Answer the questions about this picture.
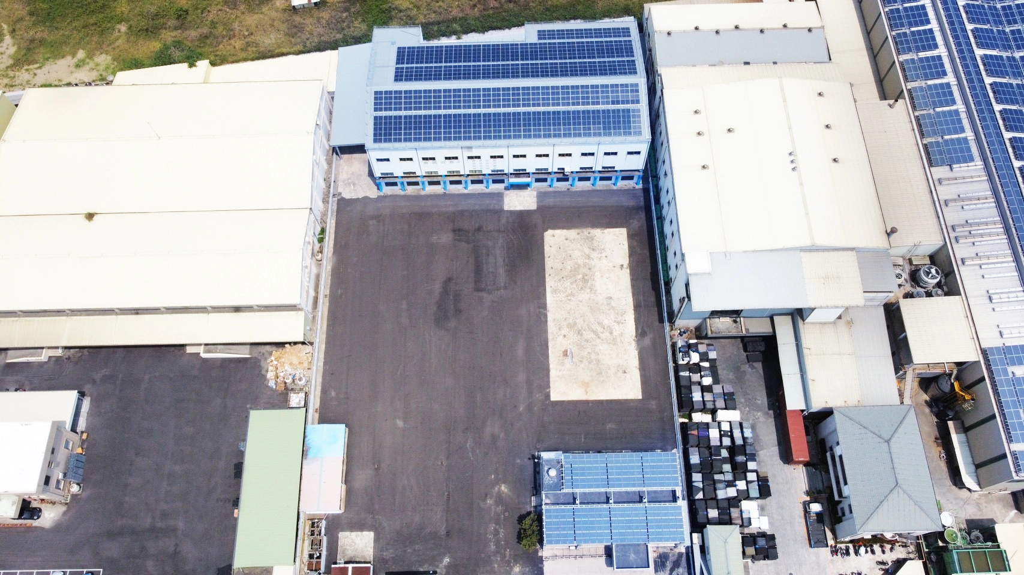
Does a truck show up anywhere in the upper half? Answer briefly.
No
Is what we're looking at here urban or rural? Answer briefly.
urban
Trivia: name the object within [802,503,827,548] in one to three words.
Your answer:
truck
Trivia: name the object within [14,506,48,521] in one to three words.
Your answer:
car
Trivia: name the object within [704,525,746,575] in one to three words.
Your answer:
shed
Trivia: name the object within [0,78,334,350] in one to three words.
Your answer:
warehouse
